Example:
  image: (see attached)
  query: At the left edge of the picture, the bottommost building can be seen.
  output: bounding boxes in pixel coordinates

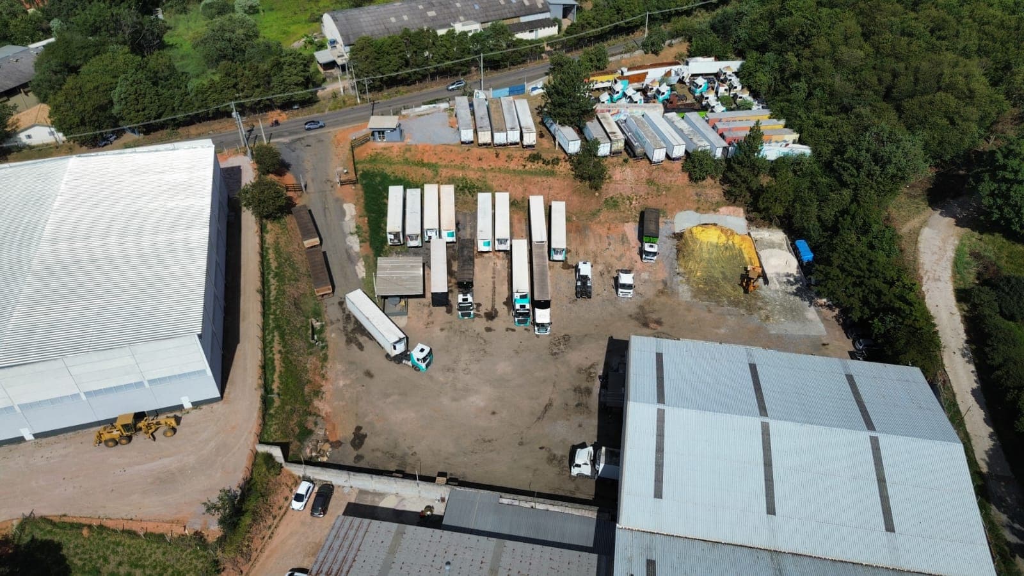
[0,134,230,441]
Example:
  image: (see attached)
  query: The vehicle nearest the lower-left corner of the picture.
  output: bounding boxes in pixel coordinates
[96,415,180,447]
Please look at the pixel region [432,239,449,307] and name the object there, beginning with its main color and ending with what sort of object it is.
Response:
white trailer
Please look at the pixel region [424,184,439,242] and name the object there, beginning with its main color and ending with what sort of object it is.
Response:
white trailer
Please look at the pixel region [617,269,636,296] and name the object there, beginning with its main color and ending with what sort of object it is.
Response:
white vehicle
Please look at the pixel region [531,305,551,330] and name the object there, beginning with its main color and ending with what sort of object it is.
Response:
white vehicle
